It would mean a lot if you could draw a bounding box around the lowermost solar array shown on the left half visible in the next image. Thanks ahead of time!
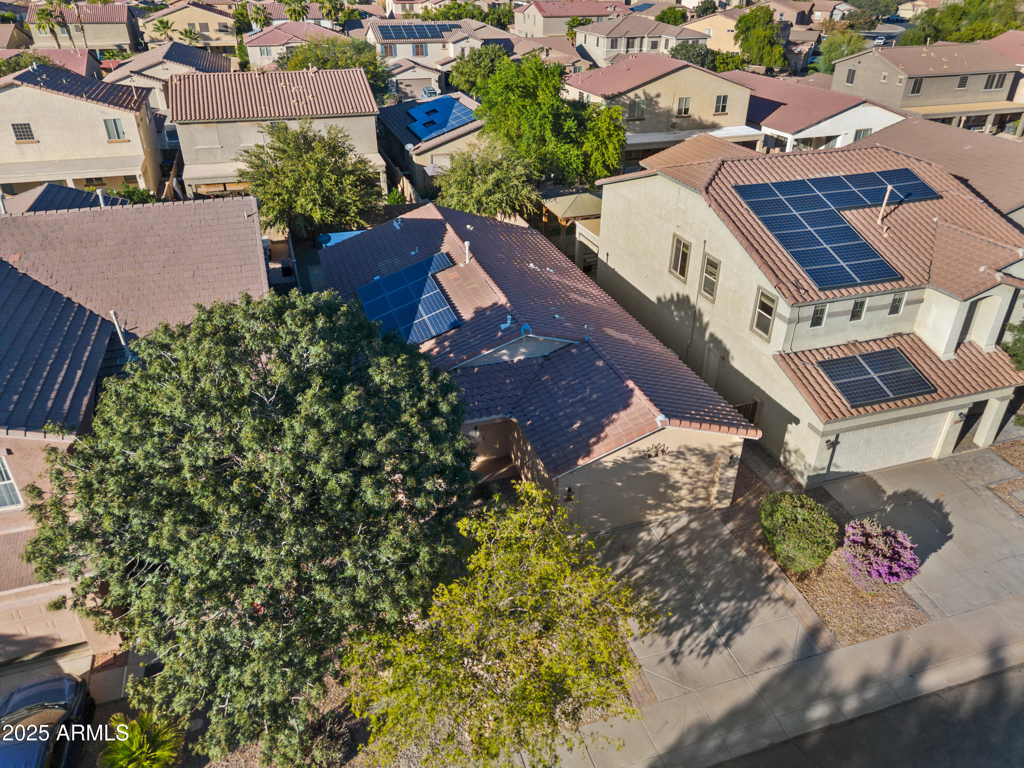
[355,247,458,340]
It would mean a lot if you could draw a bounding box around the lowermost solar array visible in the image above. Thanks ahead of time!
[819,345,939,404]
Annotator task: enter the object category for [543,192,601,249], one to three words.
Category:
gazebo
